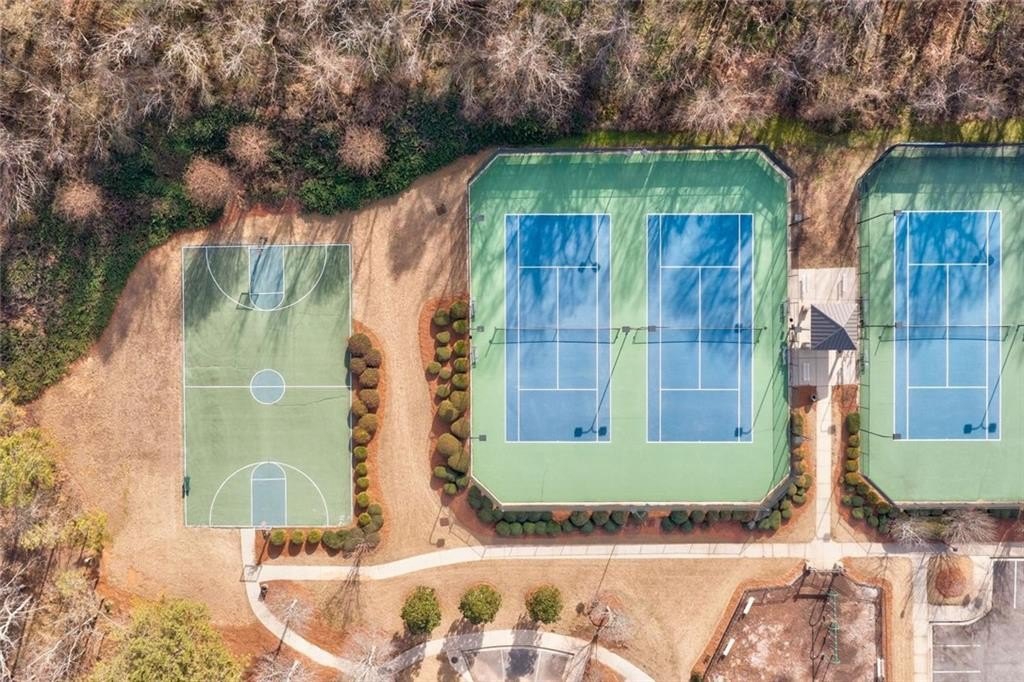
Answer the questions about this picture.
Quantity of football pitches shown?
0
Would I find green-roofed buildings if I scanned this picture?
No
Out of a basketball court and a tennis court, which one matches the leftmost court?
basketball court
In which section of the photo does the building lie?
right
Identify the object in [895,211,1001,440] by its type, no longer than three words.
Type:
tennis court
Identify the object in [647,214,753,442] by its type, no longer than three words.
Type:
tennis court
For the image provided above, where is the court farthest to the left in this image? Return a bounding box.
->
[182,244,353,527]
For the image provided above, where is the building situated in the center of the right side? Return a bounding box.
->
[805,304,858,350]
